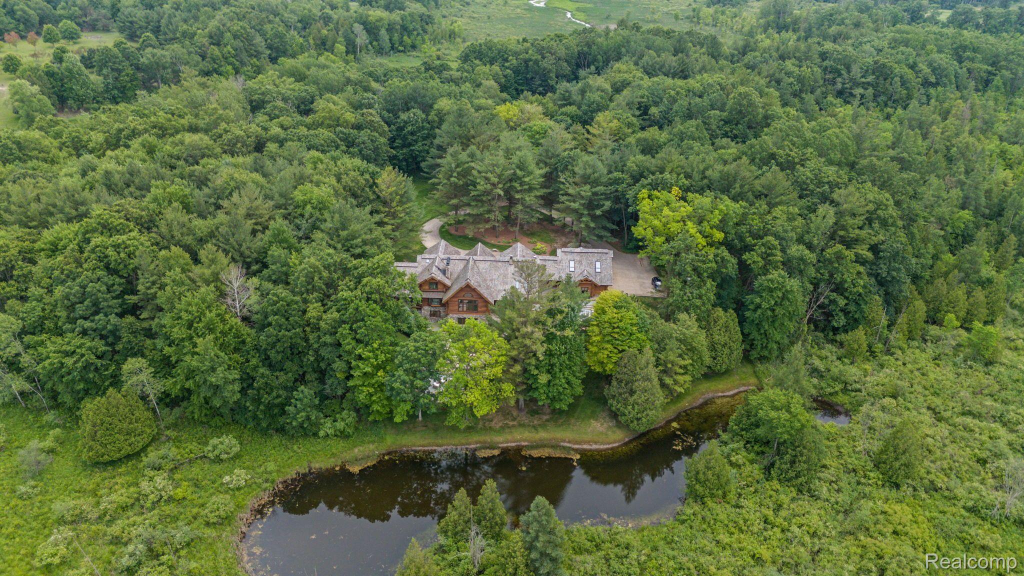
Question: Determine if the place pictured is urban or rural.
rural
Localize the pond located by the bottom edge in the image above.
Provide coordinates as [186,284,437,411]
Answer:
[243,389,777,576]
